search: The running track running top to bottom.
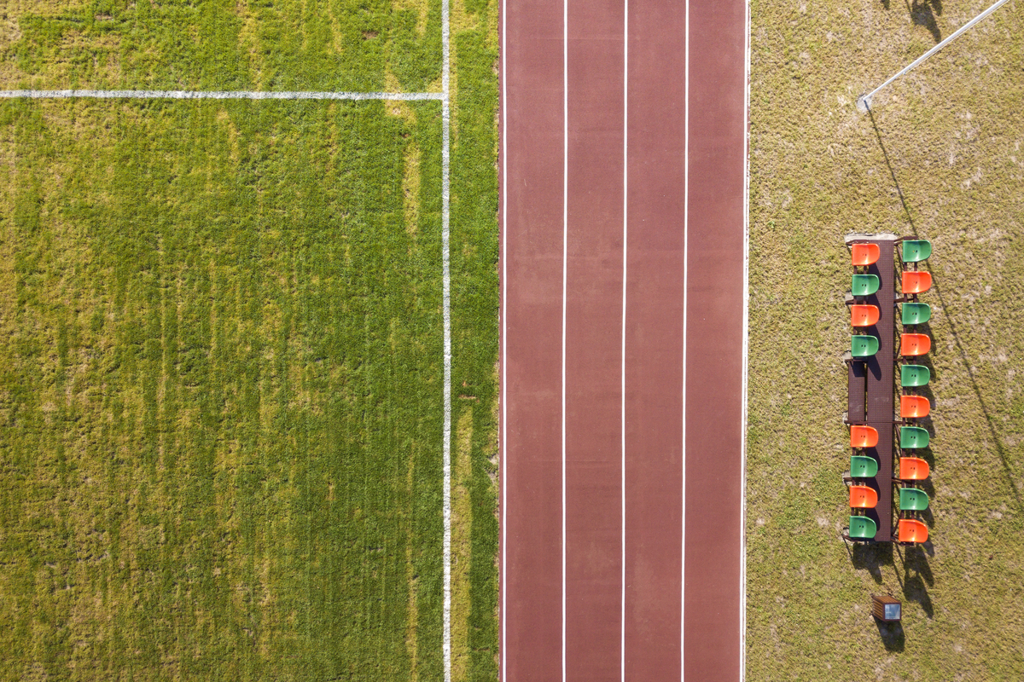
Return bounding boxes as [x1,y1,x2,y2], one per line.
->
[499,0,750,682]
